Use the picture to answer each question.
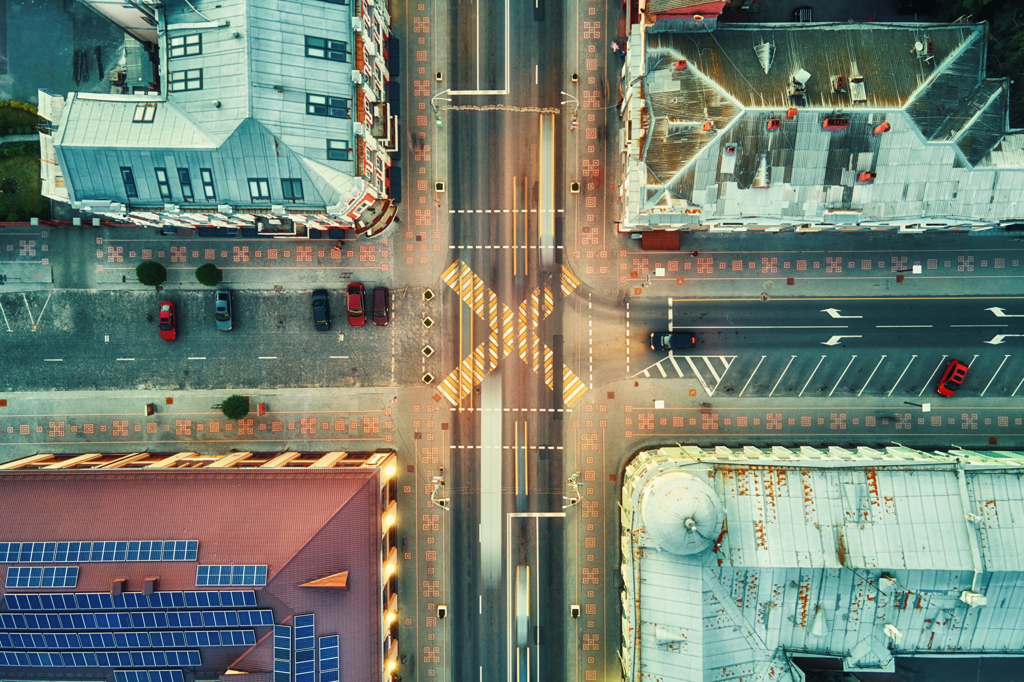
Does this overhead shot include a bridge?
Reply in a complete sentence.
No, the scene contains no bridge.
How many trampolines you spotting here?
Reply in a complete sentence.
There are no trampolines in the image.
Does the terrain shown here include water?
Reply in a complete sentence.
No, the scene doesn't show any water.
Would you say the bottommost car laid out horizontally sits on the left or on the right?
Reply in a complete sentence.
It is on the right.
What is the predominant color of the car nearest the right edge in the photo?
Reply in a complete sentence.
In this view, the car nearest the right edge is red.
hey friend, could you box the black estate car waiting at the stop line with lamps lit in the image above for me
[650,331,695,351]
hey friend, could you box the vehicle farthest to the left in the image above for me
[158,301,179,340]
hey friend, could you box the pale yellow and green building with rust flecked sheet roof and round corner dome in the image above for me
[612,442,1024,682]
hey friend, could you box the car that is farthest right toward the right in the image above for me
[934,358,969,398]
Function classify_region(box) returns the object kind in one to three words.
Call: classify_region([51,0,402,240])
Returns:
building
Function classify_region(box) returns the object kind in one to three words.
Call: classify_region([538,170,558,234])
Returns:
vehicle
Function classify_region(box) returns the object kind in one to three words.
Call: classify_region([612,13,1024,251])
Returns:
building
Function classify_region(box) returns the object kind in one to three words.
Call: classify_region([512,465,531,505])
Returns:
car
